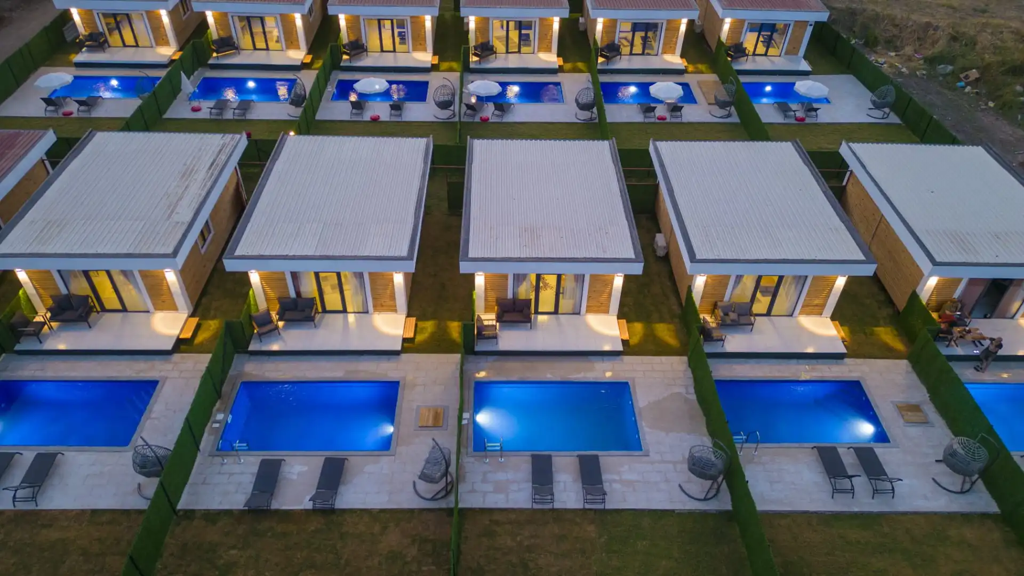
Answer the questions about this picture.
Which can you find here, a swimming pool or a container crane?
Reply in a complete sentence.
This aerial view contains a swimming pool.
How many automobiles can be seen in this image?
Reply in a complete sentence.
There are no automobiles in this view.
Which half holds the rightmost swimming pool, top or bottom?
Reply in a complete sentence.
The rightmost swimming pool is in the bottom half of the image.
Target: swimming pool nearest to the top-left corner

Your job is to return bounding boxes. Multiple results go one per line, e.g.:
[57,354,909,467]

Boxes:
[43,74,165,100]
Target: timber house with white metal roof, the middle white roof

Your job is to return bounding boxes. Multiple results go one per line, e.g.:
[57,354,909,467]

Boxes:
[459,135,645,357]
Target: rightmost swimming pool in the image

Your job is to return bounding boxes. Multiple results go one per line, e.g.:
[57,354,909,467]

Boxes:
[960,378,1024,458]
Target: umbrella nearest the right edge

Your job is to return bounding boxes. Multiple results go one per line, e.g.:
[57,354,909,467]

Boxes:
[791,81,829,120]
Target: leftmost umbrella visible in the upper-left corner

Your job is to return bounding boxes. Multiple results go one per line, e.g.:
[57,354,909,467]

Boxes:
[31,74,73,115]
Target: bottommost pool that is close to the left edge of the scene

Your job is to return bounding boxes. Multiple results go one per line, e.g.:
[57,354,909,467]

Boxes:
[0,373,169,453]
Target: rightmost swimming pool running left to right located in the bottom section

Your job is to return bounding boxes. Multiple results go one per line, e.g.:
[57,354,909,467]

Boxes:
[714,376,900,449]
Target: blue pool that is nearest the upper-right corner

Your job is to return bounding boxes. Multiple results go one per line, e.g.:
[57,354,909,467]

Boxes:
[745,81,836,108]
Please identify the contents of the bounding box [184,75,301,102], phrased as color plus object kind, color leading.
blue swimming pool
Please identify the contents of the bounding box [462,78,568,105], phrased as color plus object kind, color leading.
blue swimming pool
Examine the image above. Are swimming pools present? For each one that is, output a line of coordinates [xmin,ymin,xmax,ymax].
[184,75,301,102]
[714,376,900,449]
[326,77,433,104]
[960,378,1024,458]
[462,78,568,105]
[0,373,169,453]
[745,81,836,108]
[43,74,165,100]
[603,80,703,107]
[207,375,407,457]
[465,376,650,458]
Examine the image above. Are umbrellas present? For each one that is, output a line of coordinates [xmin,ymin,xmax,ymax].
[31,74,73,115]
[648,80,685,120]
[184,71,201,110]
[791,81,829,120]
[352,79,391,119]
[465,80,502,120]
